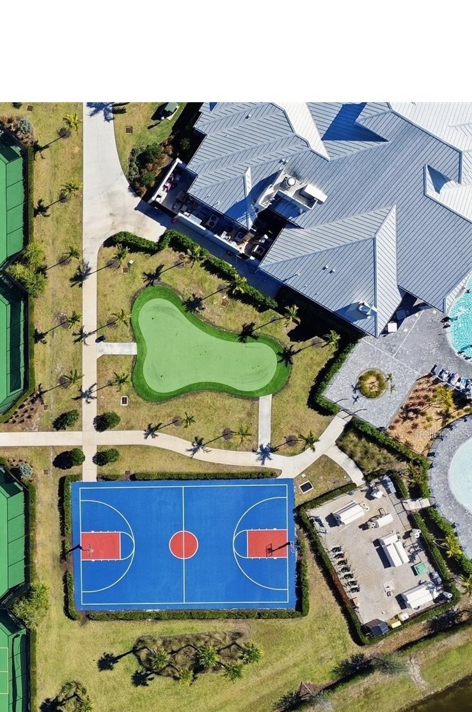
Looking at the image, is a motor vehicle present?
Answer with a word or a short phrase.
No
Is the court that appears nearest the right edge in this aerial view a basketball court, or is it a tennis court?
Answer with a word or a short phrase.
basketball court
